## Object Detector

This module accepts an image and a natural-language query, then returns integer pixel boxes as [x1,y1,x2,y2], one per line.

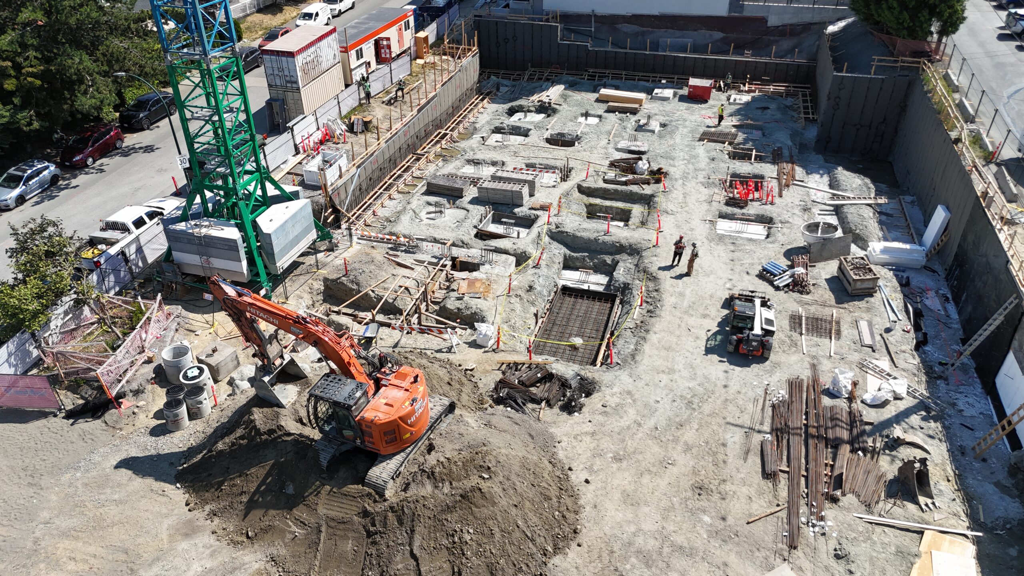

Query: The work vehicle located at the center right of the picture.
[720,283,783,358]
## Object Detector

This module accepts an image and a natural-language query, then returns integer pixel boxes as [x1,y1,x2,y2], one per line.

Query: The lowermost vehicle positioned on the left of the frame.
[205,275,461,499]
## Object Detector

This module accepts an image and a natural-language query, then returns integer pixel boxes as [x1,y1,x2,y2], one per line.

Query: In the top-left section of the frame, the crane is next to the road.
[143,0,340,302]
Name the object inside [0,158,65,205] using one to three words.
car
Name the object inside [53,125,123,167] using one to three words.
car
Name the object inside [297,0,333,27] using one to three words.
vehicle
